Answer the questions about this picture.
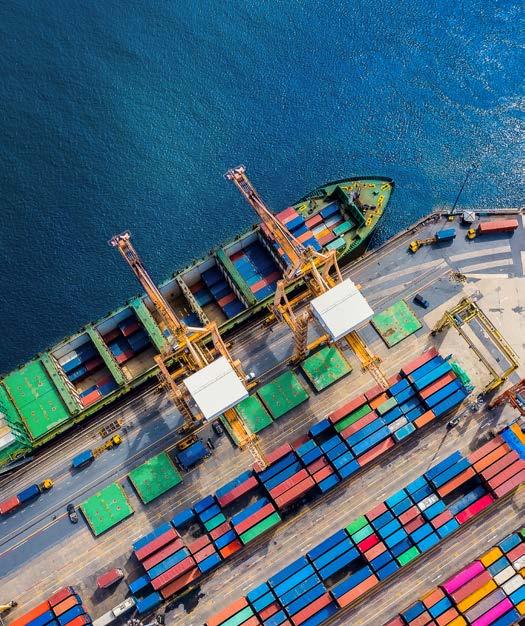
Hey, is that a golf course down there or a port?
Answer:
port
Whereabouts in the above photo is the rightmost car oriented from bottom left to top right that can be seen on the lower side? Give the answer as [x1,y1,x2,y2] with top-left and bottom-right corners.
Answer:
[244,370,260,385]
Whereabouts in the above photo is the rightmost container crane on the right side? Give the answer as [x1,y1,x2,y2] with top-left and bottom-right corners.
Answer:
[486,380,525,421]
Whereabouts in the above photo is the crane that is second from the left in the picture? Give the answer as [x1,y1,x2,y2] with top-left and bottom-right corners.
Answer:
[229,166,397,388]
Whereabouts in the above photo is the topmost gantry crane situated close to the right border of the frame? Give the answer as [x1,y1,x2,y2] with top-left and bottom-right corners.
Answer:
[428,300,523,396]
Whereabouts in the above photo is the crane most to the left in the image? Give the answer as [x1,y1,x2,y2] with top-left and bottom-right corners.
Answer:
[109,227,270,469]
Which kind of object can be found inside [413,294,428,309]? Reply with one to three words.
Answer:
vehicle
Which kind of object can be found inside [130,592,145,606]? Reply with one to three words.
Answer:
vehicle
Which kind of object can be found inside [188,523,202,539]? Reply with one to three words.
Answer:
work vehicle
